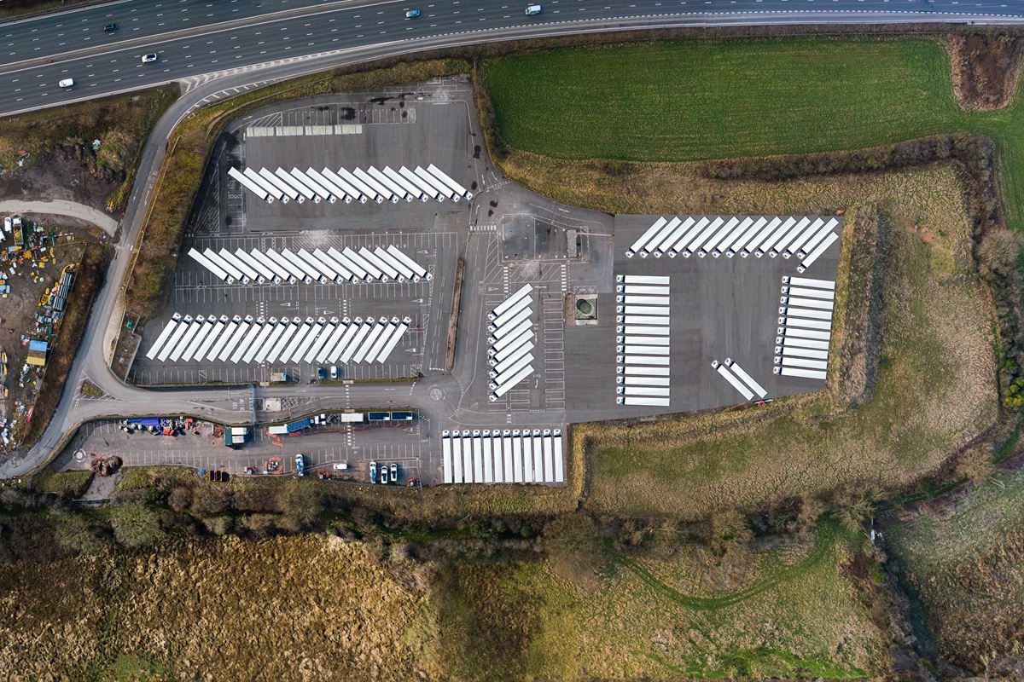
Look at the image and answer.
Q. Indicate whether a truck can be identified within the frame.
Yes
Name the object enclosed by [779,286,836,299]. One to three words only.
vehicle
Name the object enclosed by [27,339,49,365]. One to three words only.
shed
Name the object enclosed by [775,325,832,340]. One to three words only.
vehicle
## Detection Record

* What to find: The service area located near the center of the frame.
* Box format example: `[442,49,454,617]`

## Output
[51,74,841,503]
